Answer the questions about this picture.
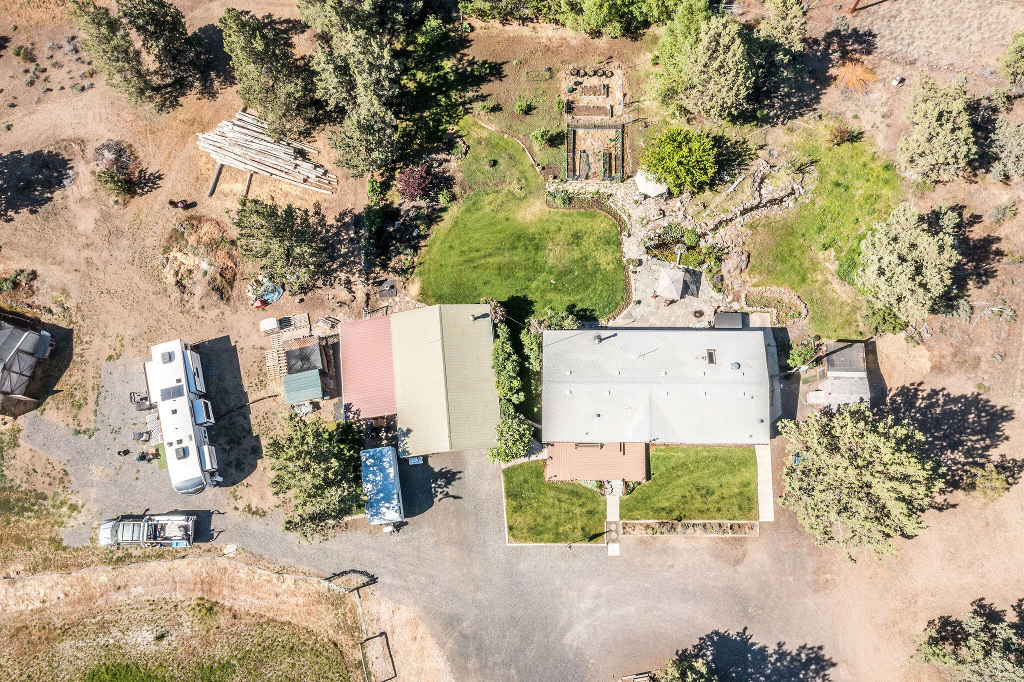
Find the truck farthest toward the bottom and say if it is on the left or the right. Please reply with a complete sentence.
It is on the left.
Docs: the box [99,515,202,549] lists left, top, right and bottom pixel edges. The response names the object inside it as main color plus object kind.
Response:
white truck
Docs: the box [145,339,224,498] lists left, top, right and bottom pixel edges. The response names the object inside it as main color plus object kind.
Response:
white trailer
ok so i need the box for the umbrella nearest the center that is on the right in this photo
[656,270,682,300]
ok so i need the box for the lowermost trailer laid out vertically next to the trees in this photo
[360,446,403,538]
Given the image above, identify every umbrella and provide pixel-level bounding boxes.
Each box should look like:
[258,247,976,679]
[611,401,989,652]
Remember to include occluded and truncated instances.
[656,270,682,300]
[629,167,670,200]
